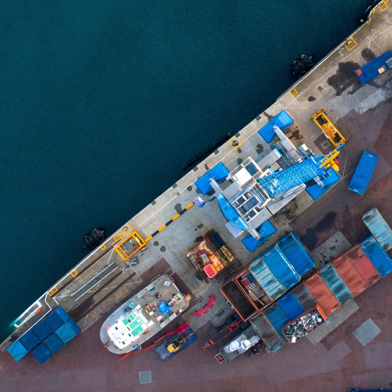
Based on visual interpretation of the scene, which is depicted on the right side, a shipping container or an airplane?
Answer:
shipping container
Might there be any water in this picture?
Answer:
Yes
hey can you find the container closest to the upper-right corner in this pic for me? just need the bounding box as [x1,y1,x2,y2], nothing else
[350,148,379,193]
